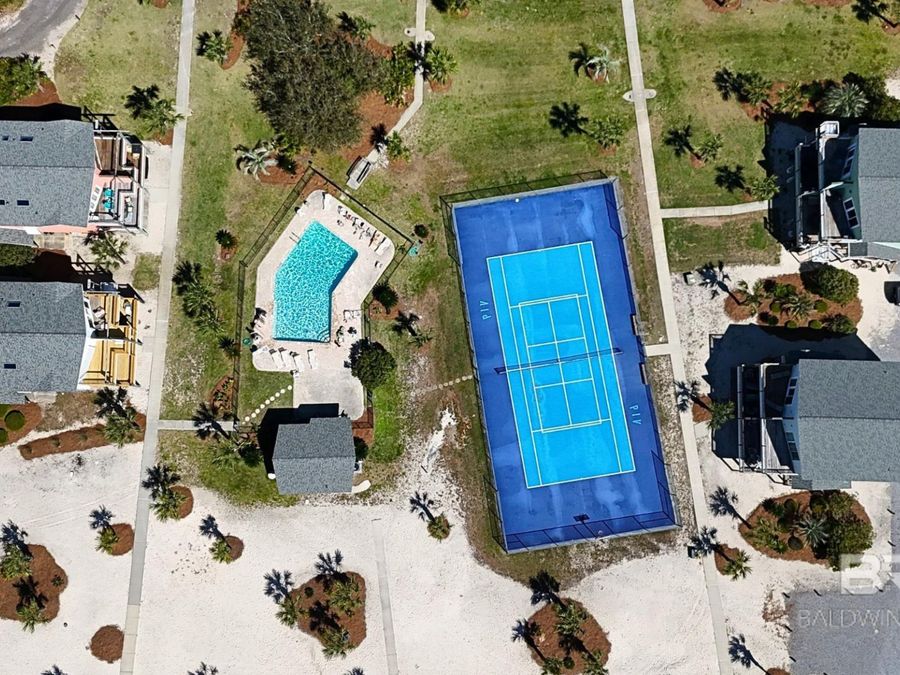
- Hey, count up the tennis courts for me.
1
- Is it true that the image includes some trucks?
No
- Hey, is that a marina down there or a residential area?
residential area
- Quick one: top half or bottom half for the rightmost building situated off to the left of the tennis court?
bottom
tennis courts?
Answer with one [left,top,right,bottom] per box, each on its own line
[453,181,679,553]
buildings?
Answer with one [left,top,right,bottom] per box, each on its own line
[791,120,900,268]
[0,122,150,252]
[0,282,140,405]
[272,417,358,494]
[735,359,900,493]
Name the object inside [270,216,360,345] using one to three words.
swimming pool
